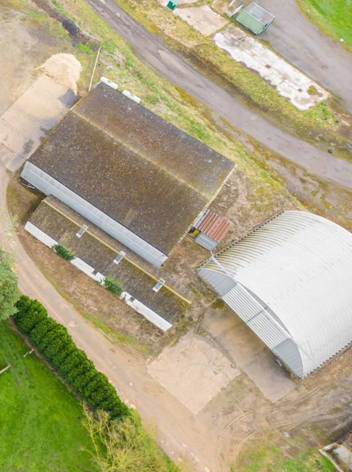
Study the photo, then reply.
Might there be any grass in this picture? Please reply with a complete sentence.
Yes, grass can be seen from above here.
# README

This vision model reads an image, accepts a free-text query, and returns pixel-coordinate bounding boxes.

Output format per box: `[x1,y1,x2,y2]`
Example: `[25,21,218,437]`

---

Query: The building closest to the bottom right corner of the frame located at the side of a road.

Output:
[197,210,352,379]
